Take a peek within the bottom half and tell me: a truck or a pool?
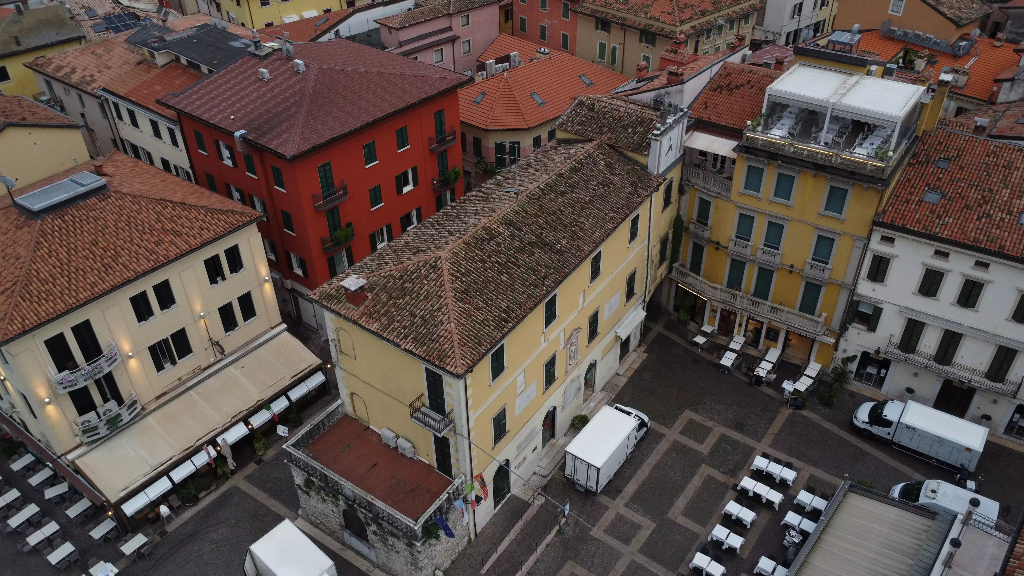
truck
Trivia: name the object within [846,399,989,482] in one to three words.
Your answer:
truck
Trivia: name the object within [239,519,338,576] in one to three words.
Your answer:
truck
